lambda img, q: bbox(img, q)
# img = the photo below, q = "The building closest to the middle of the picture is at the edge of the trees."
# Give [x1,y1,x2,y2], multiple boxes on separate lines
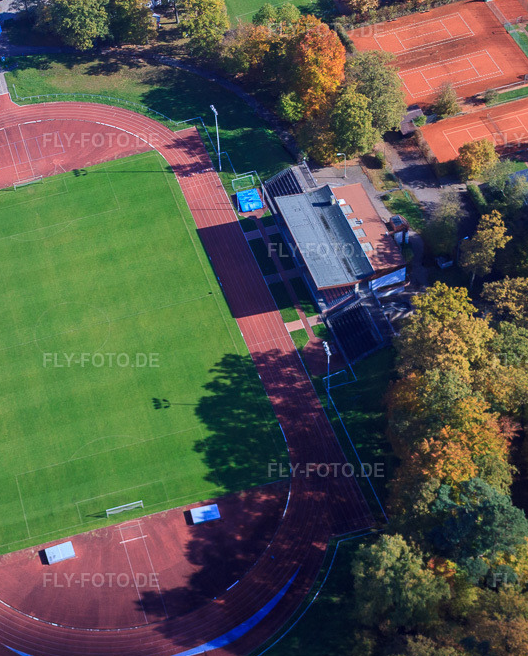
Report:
[332,180,411,295]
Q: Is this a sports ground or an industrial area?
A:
sports ground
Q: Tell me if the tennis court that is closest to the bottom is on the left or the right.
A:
right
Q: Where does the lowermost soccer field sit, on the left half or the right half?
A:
left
